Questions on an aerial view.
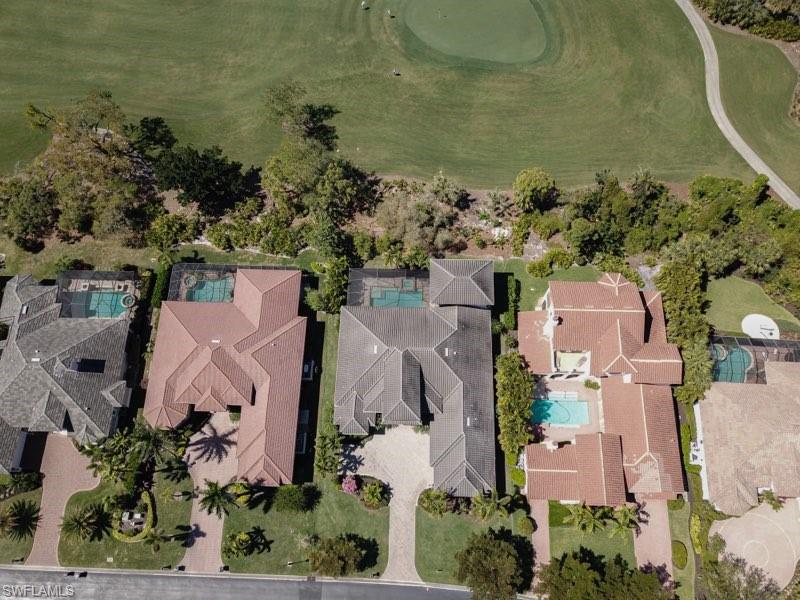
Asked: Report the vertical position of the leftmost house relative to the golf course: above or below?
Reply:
below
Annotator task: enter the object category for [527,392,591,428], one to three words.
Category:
swimming pool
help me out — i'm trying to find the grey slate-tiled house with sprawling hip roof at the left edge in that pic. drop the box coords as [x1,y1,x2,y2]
[0,273,139,473]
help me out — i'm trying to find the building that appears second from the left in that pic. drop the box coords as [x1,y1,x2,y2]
[138,269,305,488]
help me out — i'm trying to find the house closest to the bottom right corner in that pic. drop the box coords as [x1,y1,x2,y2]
[694,362,800,511]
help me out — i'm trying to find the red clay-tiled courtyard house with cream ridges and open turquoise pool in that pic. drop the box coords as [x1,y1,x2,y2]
[518,273,685,504]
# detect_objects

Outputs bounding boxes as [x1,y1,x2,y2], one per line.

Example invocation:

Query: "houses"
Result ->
[518,273,685,504]
[694,362,800,511]
[138,269,305,488]
[0,273,139,473]
[333,259,495,498]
